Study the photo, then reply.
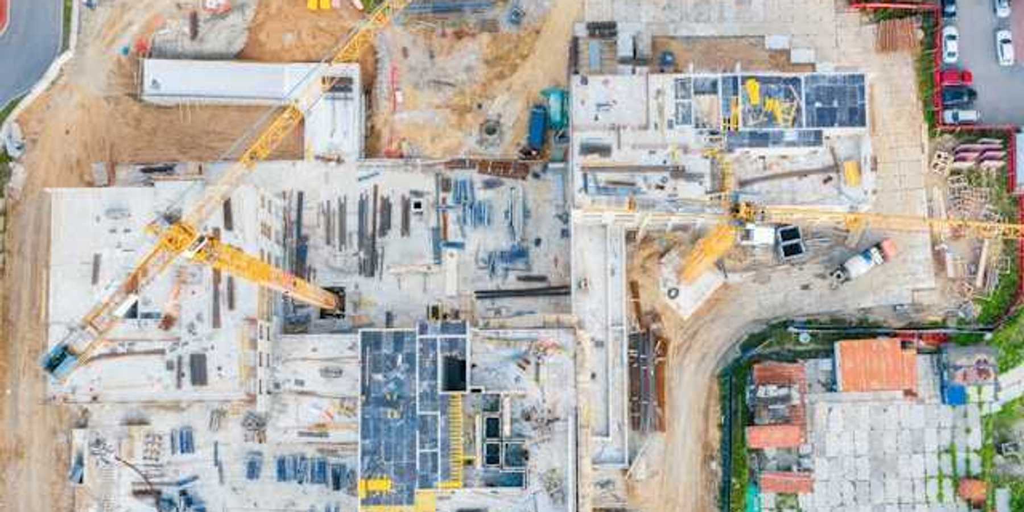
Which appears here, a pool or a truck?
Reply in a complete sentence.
The image shows a truck.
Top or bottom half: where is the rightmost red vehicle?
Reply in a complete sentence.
You can find the rightmost red vehicle in the top half.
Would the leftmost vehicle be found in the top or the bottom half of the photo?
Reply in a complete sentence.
The top half of the photo is where the leftmost vehicle is.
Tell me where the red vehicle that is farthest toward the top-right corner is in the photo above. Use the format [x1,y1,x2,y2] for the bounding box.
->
[945,65,975,85]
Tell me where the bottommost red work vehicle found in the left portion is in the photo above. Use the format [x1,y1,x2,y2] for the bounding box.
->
[382,140,414,159]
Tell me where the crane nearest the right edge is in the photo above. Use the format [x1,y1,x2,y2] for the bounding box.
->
[584,184,1024,295]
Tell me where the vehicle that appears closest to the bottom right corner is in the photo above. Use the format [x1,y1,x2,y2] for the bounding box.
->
[833,231,907,287]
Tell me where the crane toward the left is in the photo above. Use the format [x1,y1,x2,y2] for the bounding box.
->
[41,0,423,391]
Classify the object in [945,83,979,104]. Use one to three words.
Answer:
car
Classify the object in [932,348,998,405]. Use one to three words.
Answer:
shed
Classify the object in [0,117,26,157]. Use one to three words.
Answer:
vehicle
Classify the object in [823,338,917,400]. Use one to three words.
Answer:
house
